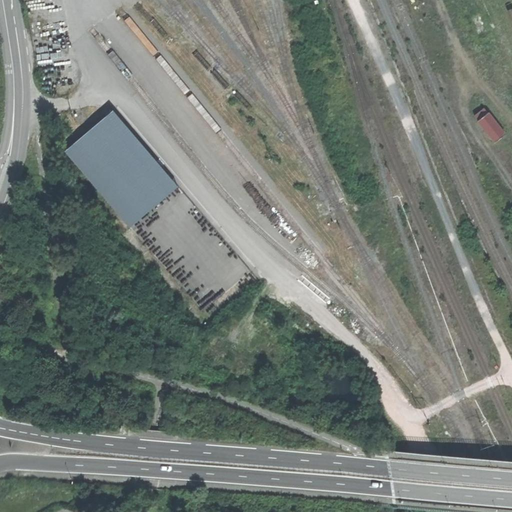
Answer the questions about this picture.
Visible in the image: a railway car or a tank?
railway car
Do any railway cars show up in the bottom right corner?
No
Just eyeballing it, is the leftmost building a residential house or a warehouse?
warehouse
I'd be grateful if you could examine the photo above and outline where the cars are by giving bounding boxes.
[160,466,172,472]
[371,482,382,488]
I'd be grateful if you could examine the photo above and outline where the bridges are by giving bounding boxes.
[388,426,512,512]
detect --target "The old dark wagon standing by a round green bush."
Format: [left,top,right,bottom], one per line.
[232,90,253,110]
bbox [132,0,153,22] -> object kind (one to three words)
rail car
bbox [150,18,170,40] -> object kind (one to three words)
rail car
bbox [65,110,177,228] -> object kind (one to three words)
warehouse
